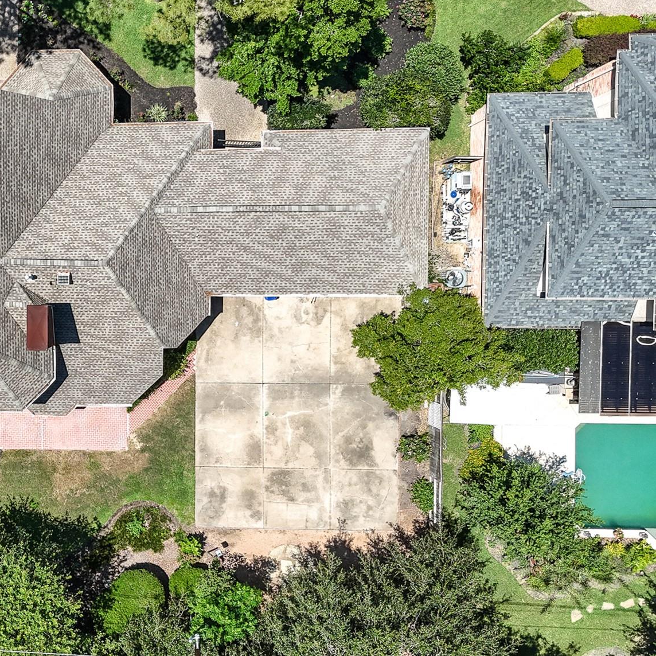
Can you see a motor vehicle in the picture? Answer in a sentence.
No, there's no motor vehicle here.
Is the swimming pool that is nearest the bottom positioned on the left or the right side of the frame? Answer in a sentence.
The swimming pool that is nearest the bottom sits on the right side.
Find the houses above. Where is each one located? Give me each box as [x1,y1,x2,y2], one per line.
[467,31,656,332]
[0,46,433,417]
